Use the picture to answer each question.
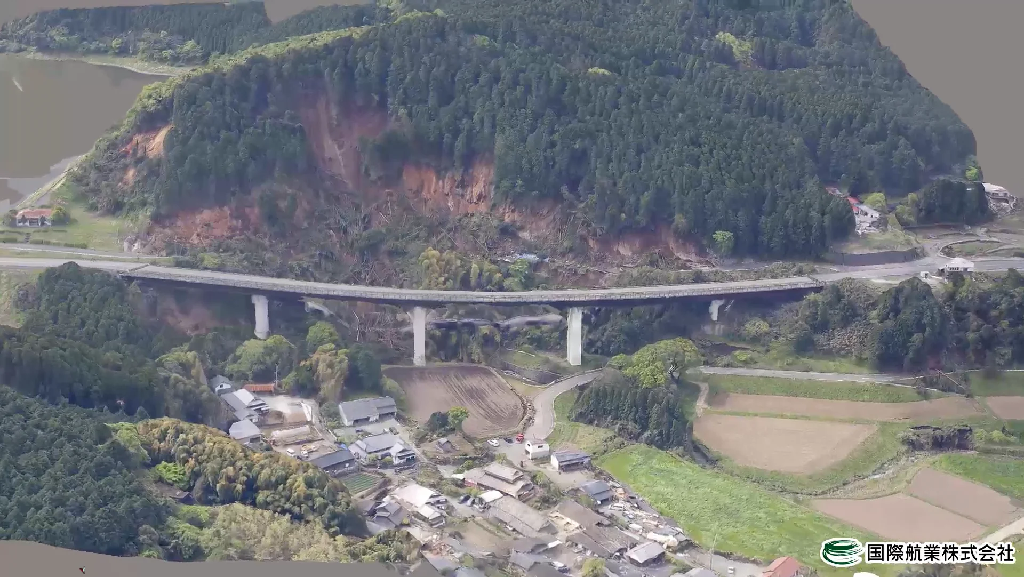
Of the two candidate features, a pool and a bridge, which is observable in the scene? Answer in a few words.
bridge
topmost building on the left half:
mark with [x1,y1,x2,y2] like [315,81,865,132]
[11,208,57,227]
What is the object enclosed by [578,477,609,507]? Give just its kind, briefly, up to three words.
house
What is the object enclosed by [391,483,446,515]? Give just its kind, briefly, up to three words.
house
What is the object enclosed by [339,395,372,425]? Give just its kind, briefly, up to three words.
barn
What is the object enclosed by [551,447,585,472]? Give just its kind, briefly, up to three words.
building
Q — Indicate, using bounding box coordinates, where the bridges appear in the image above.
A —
[117,261,826,368]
